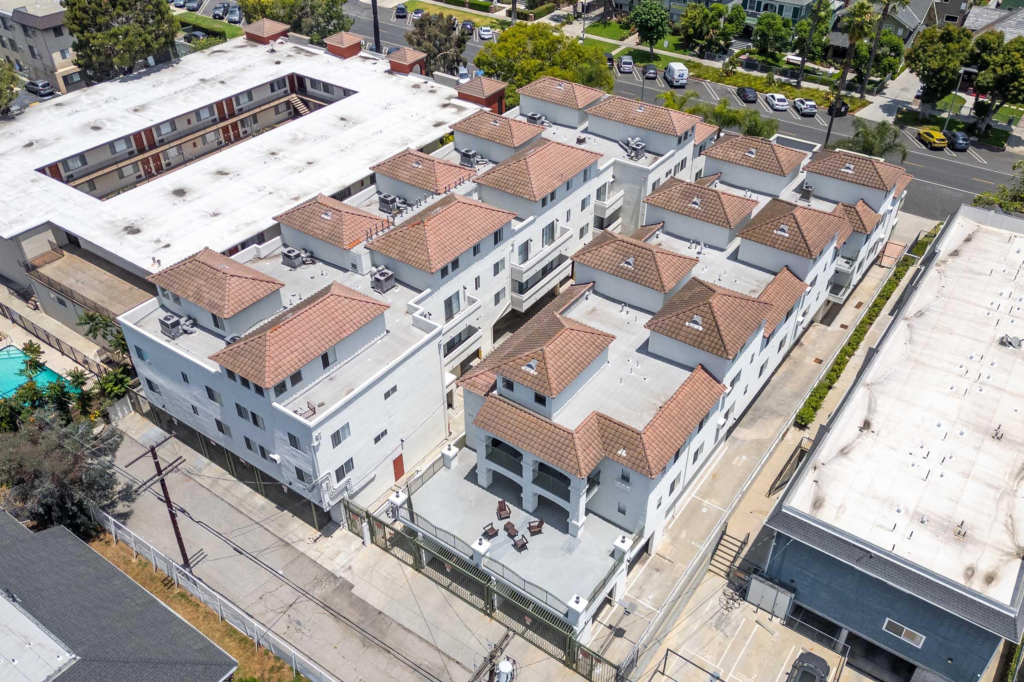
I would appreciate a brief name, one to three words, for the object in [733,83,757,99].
car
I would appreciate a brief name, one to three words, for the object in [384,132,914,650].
building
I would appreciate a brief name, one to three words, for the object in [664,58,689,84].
vehicle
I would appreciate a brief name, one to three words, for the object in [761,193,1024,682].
building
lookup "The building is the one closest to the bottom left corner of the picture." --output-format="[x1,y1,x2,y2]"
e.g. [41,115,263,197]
[0,491,241,682]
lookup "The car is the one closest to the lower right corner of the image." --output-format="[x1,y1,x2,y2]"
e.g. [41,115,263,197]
[778,637,828,682]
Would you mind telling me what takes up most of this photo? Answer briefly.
buildings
